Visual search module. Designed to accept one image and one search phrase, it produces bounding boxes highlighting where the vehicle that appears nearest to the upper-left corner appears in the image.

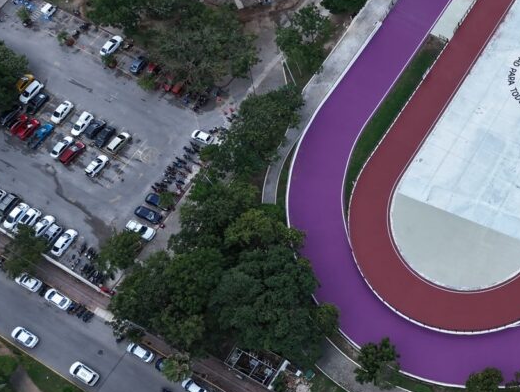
[35,0,60,19]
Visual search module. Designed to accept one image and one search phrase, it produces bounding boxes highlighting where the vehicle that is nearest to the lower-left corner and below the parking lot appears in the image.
[9,325,40,349]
